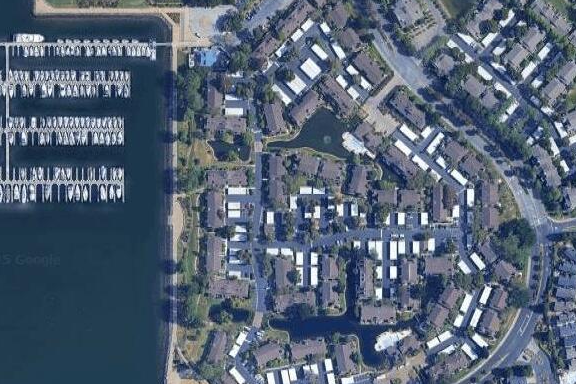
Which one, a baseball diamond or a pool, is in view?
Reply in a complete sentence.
Visible in the photo is a pool.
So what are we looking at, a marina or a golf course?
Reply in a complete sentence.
The area seen from above is a marina.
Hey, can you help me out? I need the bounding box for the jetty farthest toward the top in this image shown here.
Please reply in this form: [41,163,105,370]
[0,43,169,56]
